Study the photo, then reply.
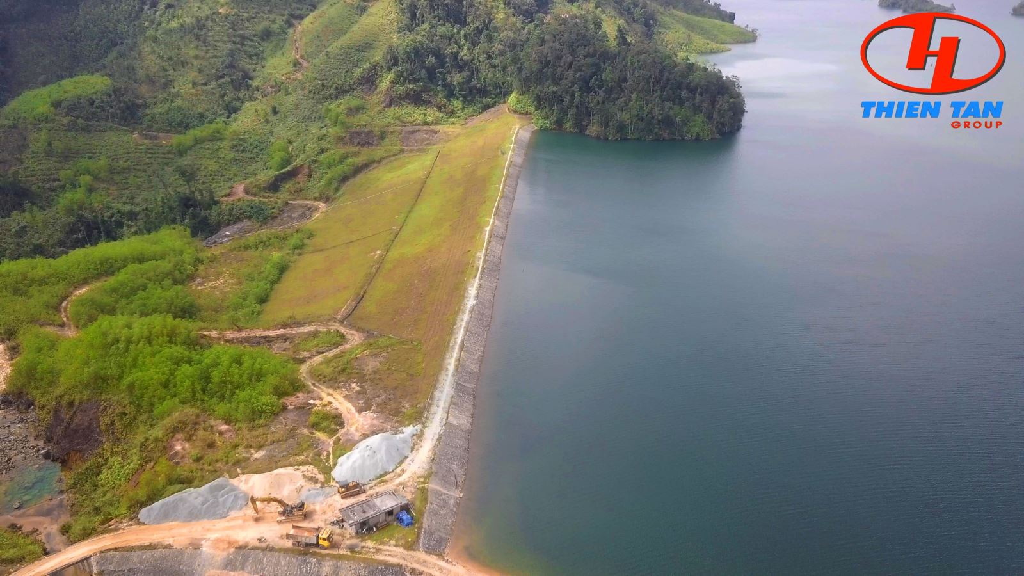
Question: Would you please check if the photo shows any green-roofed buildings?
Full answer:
No, the scene contains no green-roofed building.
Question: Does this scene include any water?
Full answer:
Yes, water shows up in the scene.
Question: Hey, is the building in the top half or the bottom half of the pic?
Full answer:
You can find the building in the bottom half.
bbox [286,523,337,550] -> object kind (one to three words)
truck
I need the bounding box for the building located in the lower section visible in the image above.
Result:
[344,484,412,534]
